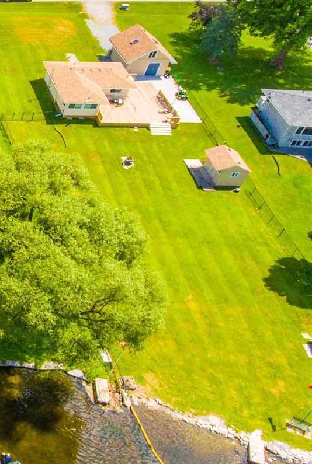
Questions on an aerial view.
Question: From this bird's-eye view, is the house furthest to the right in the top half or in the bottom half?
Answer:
top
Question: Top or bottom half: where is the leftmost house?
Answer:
top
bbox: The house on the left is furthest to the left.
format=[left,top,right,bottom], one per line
[40,57,145,121]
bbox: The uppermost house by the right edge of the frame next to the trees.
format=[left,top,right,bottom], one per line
[235,83,312,158]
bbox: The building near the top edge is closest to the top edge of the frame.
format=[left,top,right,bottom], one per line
[108,11,188,75]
